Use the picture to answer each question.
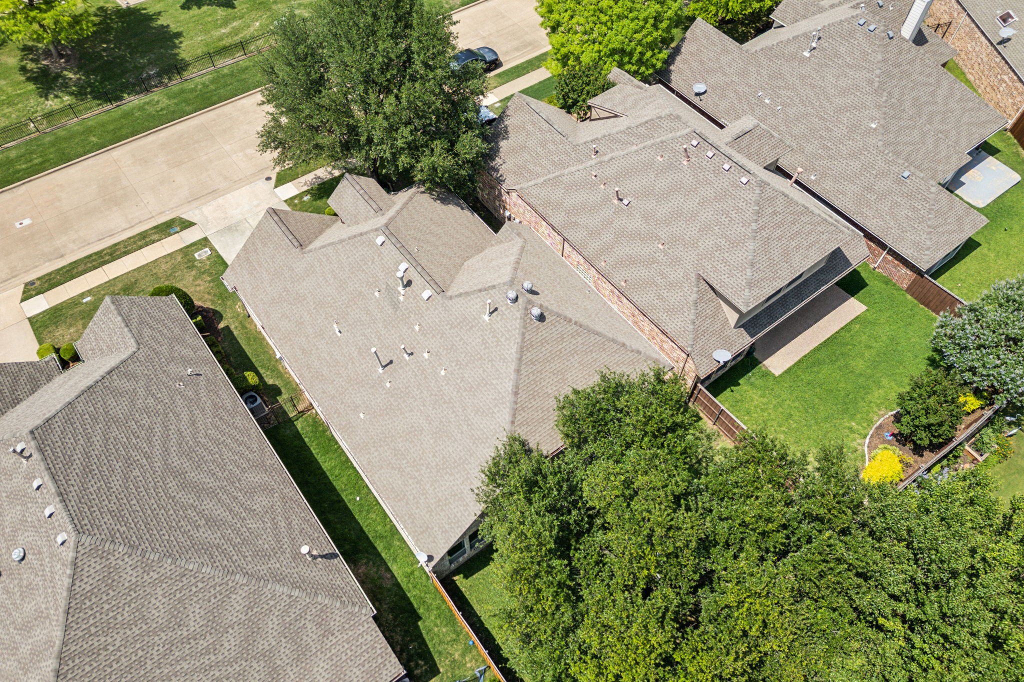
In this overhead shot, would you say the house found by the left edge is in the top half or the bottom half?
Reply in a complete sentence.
It is in the bottom half that the house found by the left edge appears.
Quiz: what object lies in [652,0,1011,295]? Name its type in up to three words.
house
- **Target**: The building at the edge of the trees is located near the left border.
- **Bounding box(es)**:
[0,292,407,682]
